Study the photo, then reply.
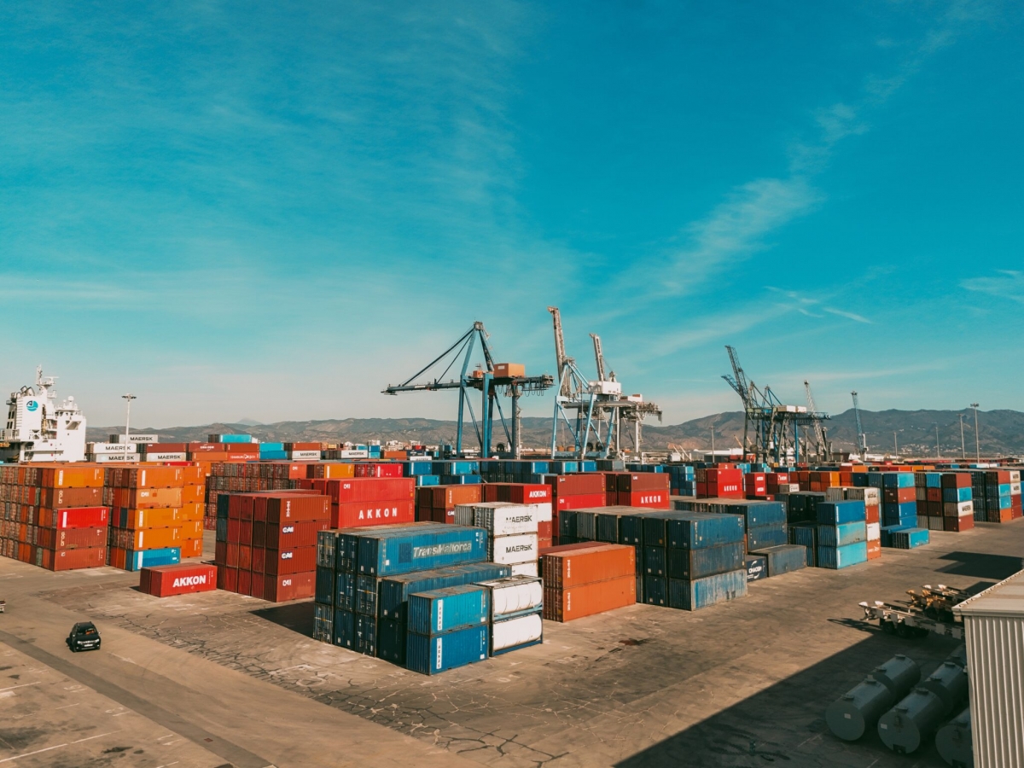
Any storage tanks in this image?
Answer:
Yes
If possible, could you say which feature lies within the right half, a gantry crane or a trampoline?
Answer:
gantry crane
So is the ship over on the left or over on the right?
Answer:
left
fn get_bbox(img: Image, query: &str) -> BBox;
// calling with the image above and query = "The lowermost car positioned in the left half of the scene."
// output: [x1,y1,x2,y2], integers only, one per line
[66,622,104,655]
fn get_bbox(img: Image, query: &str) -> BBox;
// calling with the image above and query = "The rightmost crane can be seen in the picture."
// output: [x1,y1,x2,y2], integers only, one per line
[851,392,871,466]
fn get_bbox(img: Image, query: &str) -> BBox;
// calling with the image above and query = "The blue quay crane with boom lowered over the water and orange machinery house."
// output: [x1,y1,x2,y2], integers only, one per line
[375,315,560,461]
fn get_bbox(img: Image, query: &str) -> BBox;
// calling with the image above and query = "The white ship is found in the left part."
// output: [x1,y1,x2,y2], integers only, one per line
[0,366,89,462]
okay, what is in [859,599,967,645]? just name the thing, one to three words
trailer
